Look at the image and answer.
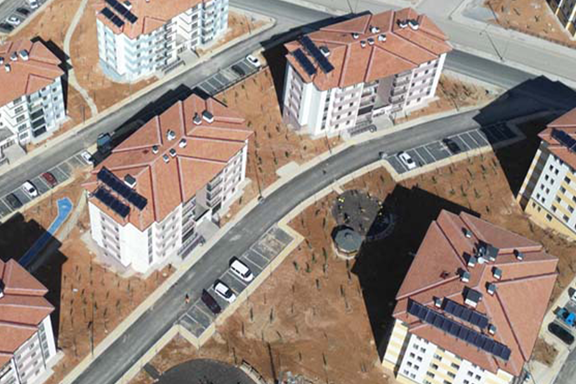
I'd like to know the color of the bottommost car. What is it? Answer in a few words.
black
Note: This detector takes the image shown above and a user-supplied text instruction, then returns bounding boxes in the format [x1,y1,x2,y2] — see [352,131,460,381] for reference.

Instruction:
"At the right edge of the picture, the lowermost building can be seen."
[380,209,559,384]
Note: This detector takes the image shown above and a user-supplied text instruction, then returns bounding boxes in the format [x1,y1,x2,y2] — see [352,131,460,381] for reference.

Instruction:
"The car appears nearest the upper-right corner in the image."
[443,133,461,151]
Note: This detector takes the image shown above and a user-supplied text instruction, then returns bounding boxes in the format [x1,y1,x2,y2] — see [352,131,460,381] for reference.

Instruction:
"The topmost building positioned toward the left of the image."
[92,0,228,82]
